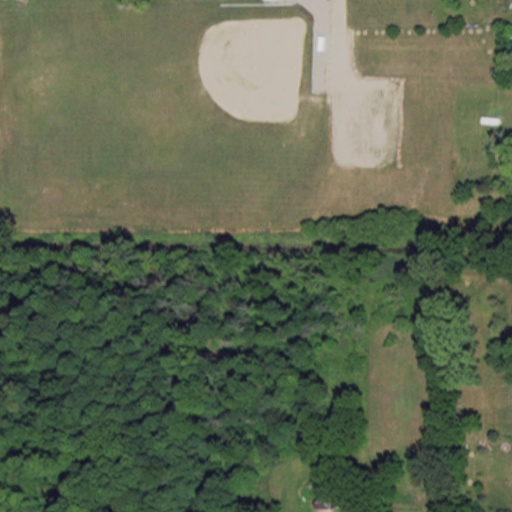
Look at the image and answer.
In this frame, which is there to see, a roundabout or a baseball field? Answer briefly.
baseball field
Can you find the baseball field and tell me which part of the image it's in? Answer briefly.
top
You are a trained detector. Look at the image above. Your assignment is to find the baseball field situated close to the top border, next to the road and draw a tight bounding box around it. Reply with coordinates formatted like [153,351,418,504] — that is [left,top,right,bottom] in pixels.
[199,20,304,122]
